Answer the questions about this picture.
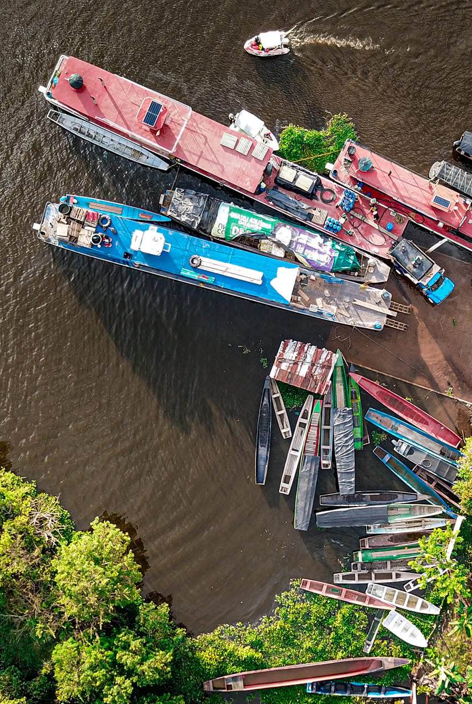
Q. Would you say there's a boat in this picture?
Yes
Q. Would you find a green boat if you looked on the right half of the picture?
Yes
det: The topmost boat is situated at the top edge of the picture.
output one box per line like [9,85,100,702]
[244,10,305,58]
